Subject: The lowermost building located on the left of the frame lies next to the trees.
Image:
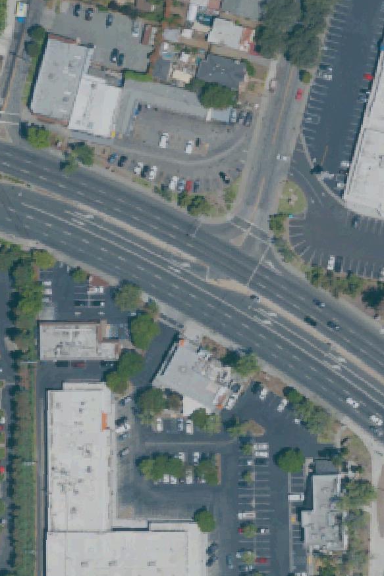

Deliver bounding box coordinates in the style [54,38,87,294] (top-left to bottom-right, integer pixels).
[45,379,208,576]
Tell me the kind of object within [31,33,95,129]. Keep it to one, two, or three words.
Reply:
building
